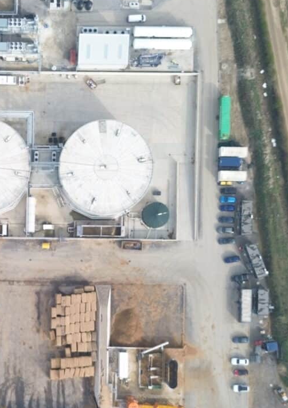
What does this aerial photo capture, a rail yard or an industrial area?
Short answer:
industrial area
